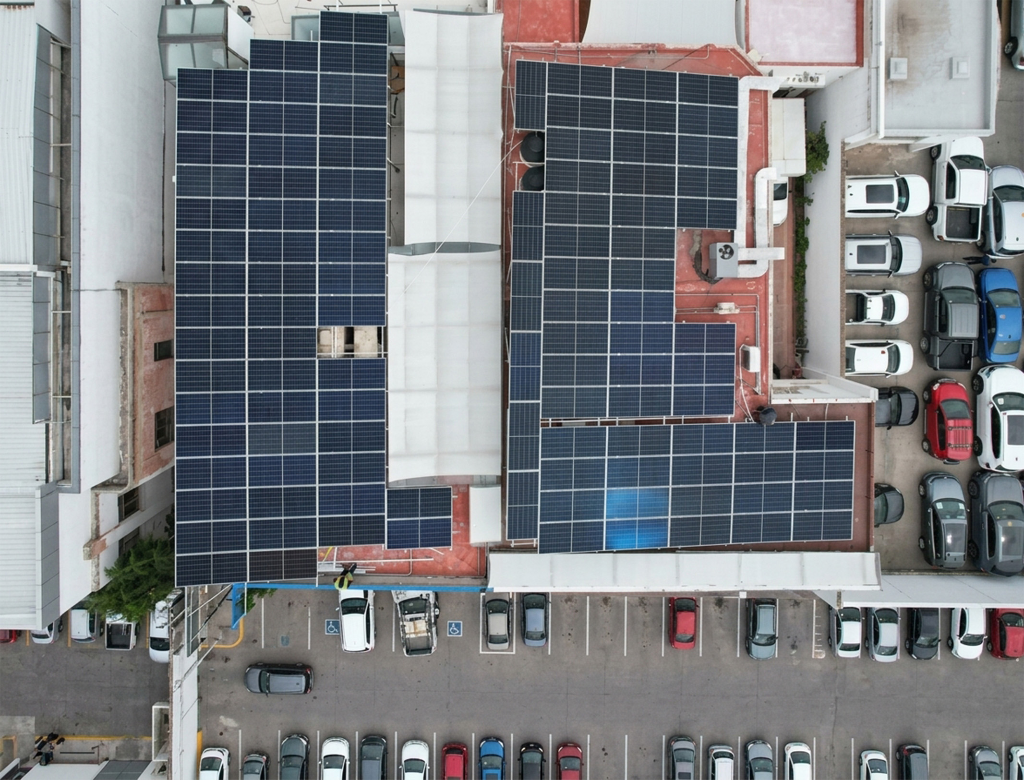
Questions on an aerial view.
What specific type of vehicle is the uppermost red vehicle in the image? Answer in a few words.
automobile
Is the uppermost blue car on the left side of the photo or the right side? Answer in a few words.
right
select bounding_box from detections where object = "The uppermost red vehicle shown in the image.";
[922,379,978,465]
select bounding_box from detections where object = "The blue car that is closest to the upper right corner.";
[972,268,1024,361]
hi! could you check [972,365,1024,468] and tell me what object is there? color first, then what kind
white car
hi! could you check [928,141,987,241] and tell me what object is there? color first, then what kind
white truck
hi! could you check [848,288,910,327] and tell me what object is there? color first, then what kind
white truck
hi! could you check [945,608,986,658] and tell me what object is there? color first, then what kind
white car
